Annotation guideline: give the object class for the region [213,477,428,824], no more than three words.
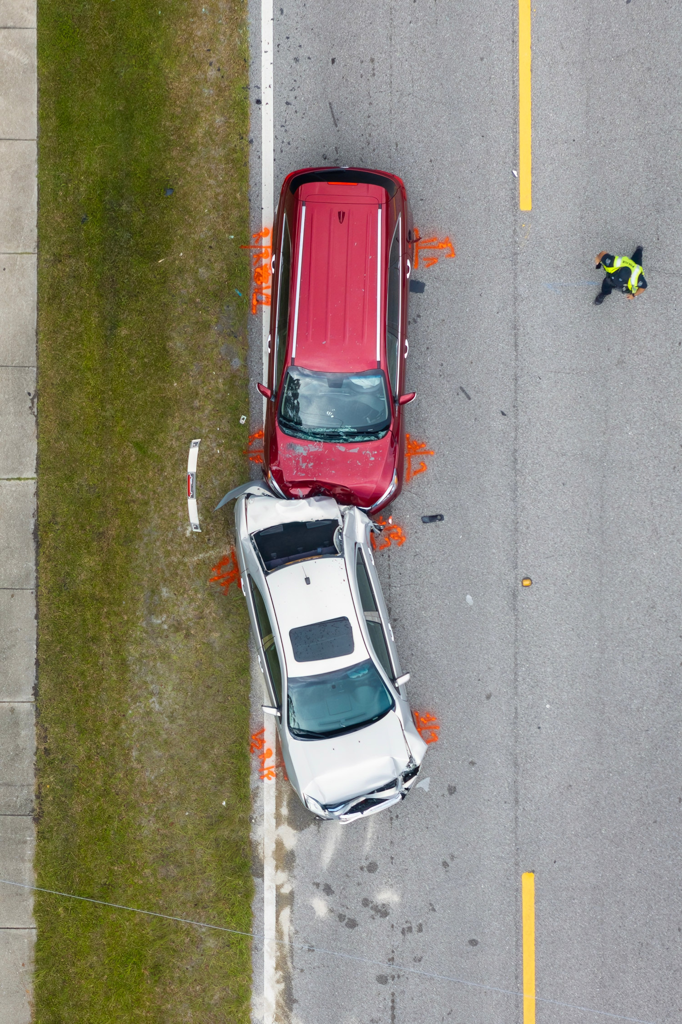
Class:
car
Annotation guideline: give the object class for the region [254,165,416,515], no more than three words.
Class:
car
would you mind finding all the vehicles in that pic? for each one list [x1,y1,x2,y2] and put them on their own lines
[213,477,428,824]
[254,165,416,515]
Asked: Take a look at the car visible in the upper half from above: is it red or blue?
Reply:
red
